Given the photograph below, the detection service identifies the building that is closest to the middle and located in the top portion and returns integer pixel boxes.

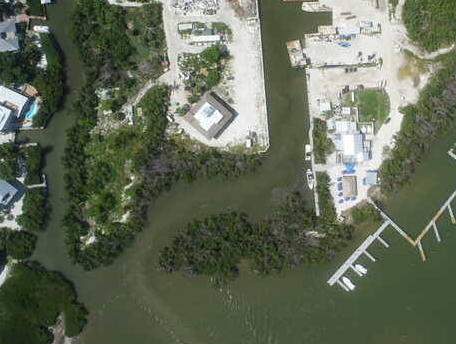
[184,92,234,138]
